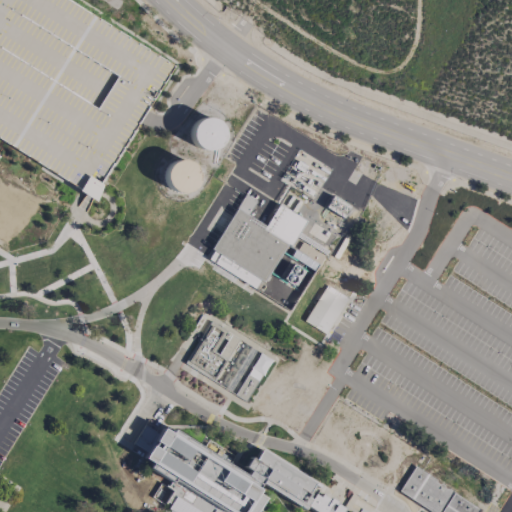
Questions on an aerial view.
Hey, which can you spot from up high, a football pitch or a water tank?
water tank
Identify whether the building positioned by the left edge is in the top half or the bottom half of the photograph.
top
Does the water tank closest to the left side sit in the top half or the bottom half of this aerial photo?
top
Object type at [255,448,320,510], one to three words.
building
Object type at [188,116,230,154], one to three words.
water tank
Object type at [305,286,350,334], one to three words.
building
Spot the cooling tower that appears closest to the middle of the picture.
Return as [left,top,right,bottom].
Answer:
[285,264,308,288]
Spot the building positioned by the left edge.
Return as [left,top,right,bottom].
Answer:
[0,0,176,202]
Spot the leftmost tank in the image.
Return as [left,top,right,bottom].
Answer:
[162,158,204,198]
